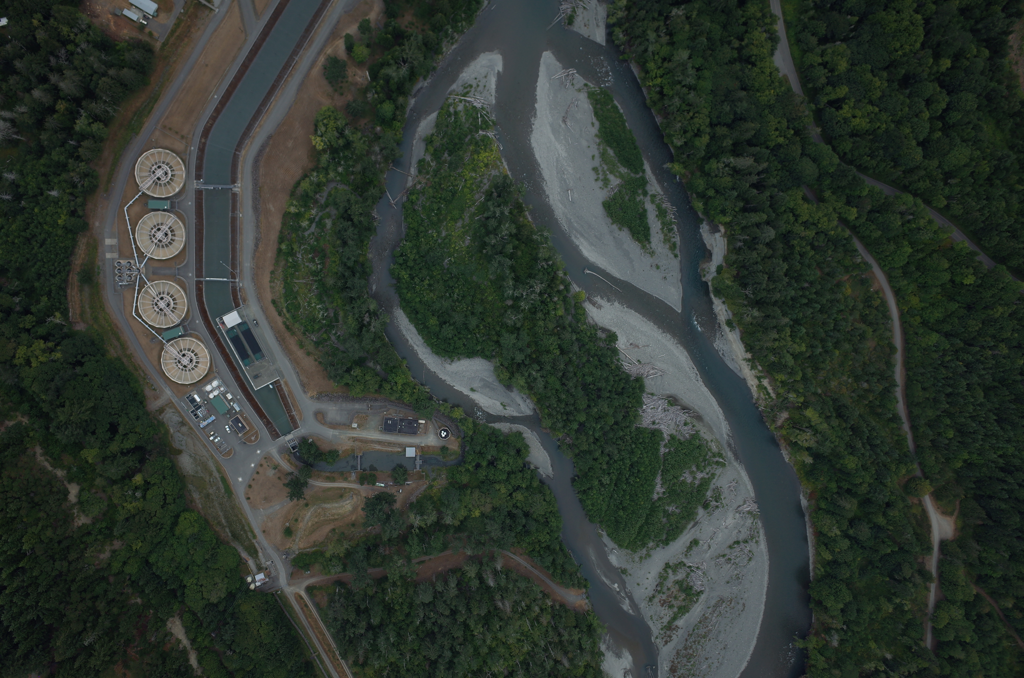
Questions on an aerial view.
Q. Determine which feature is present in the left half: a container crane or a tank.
tank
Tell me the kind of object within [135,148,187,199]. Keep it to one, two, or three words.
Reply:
storage tank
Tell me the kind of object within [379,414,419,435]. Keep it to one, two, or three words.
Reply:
building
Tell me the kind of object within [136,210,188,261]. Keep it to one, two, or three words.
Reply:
storage tank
